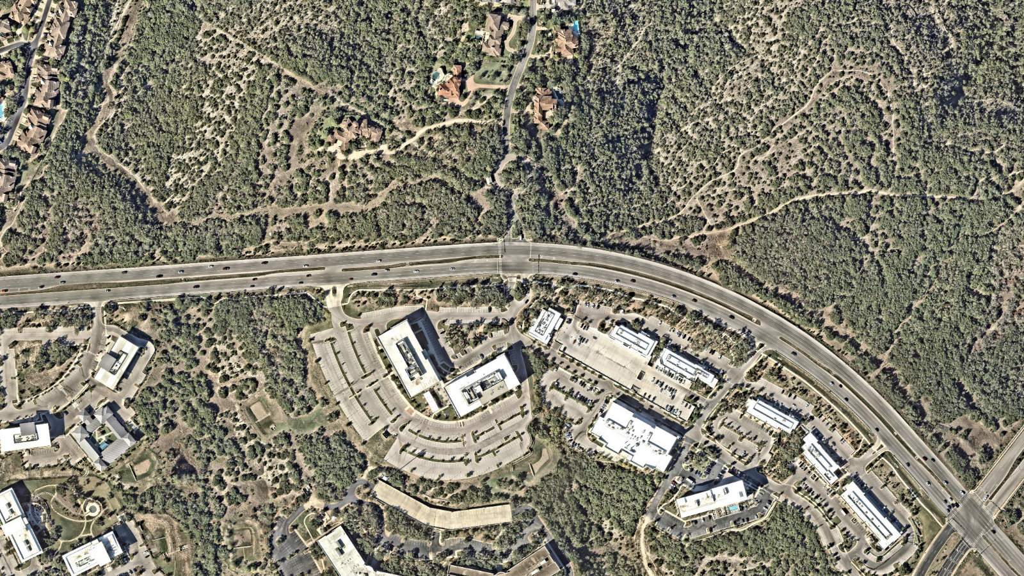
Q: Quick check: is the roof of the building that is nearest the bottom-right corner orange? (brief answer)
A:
No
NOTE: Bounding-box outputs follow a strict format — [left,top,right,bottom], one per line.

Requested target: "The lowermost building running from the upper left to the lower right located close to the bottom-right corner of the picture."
[840,482,901,550]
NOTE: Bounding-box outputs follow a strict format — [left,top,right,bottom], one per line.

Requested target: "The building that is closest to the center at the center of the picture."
[528,308,563,344]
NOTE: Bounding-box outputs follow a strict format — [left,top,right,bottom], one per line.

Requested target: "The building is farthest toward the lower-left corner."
[0,488,43,563]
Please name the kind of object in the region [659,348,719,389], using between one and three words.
building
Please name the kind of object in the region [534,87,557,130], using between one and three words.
house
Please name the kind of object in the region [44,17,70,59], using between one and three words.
house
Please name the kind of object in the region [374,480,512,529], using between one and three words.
building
